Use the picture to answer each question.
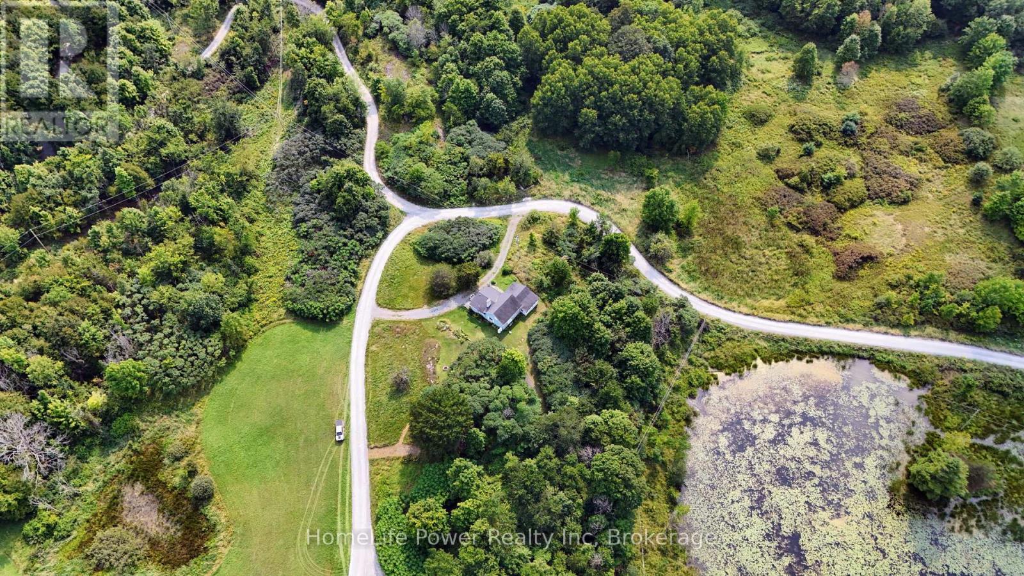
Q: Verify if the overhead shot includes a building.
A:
Yes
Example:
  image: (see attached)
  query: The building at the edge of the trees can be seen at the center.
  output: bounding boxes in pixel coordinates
[465,283,541,329]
